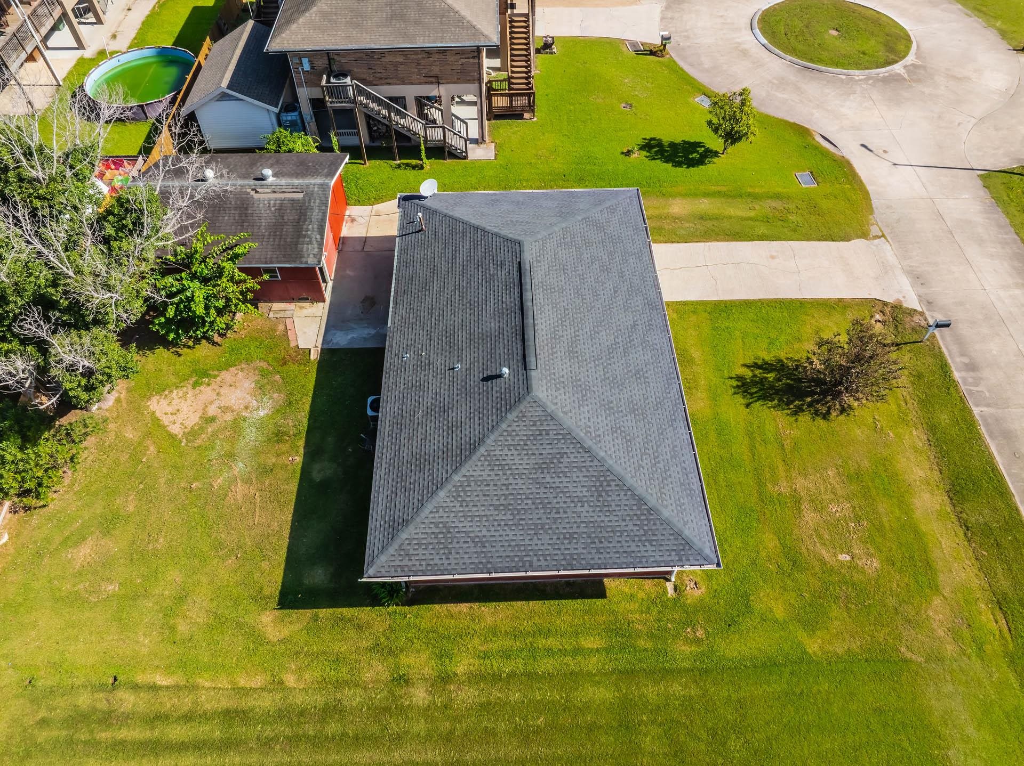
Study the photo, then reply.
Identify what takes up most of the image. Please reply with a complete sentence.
For the most part, this view shows grass.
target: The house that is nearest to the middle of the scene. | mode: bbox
[363,187,722,593]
